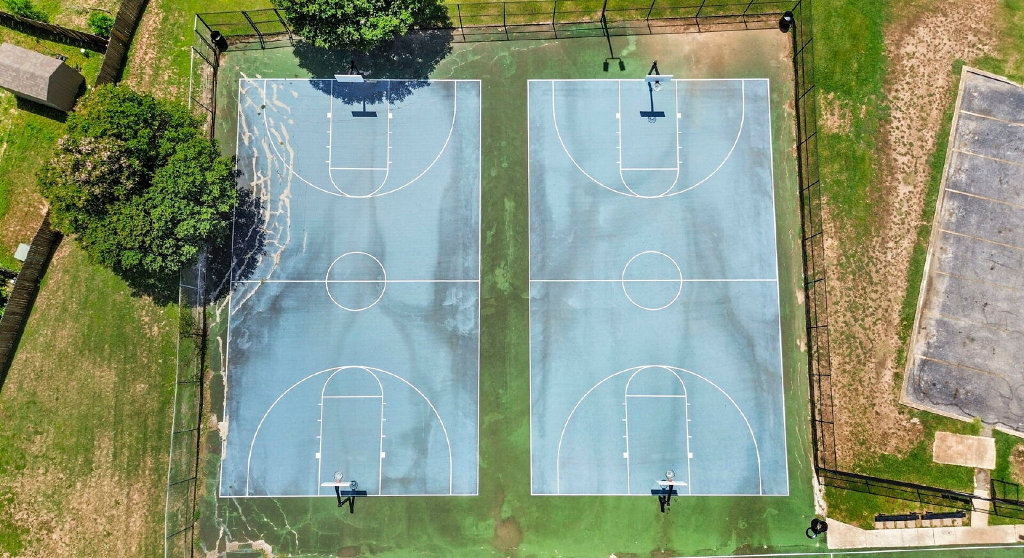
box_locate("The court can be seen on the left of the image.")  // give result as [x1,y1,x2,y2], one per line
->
[221,75,480,496]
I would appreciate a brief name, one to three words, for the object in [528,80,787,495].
basketball court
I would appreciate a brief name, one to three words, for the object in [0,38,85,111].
shed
